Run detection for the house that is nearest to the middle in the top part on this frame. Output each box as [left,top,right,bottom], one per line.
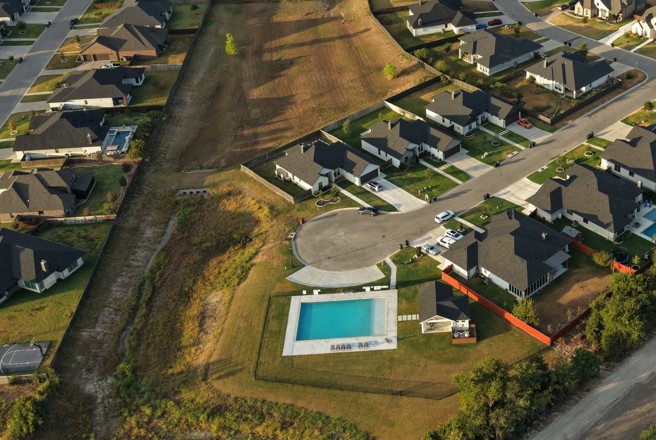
[275,134,381,199]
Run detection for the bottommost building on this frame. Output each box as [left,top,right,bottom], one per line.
[419,277,472,334]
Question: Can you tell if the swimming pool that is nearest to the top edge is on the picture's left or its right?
left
